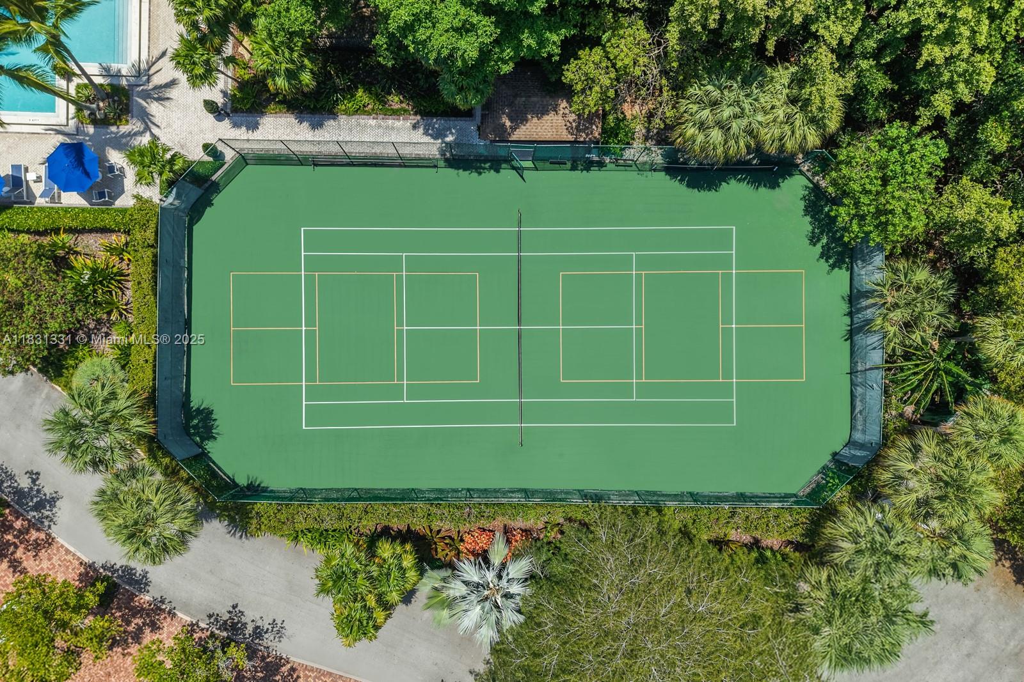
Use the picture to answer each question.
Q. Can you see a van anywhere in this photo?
No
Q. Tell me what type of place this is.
sports ground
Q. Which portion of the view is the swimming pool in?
top left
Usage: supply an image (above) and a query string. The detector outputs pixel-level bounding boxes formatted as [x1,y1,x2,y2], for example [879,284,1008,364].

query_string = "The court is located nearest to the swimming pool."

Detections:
[186,156,848,493]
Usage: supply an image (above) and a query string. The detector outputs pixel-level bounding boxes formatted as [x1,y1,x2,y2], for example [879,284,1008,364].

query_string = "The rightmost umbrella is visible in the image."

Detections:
[48,142,104,194]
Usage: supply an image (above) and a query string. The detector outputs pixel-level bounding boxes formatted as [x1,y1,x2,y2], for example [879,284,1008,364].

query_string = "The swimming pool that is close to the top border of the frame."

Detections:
[0,0,150,133]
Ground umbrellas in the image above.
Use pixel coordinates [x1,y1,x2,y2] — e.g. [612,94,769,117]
[0,171,12,200]
[48,142,104,194]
